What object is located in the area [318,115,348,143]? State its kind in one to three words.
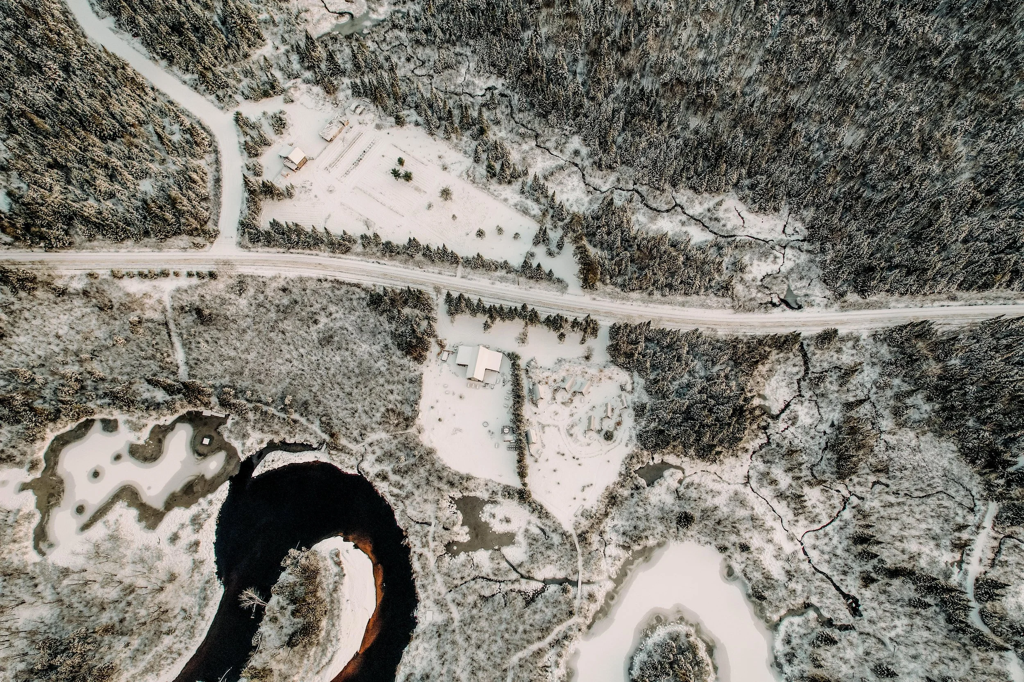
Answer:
shed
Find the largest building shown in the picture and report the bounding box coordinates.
[455,345,503,385]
